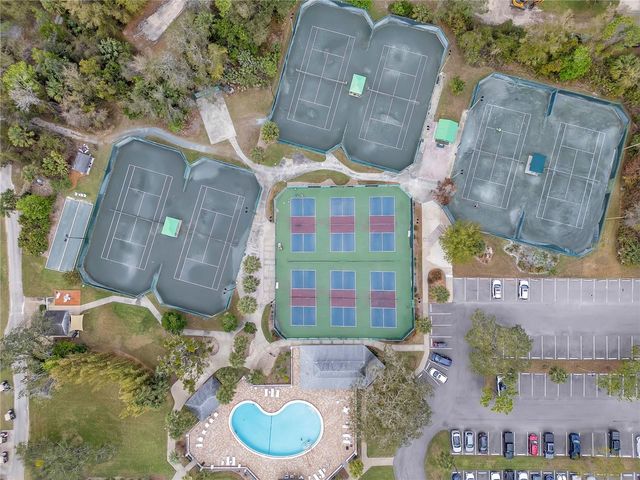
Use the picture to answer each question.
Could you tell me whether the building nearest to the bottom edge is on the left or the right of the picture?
left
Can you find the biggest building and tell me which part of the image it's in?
bottom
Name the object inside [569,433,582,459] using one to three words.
vehicle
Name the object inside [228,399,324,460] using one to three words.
swimming pool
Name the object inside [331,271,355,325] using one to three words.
sports court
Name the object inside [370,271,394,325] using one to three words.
sports court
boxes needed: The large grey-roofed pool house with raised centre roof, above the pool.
[299,344,382,389]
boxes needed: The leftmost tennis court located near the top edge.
[269,4,372,153]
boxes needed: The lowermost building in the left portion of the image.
[185,375,228,421]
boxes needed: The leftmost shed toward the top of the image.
[73,152,95,174]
